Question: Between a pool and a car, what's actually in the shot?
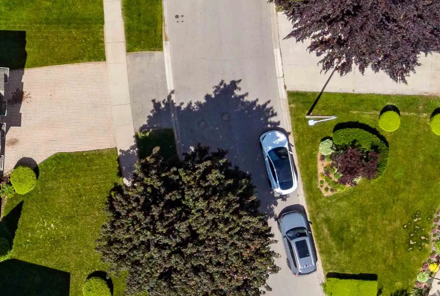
car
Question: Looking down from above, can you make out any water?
No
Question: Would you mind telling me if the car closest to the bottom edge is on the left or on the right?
right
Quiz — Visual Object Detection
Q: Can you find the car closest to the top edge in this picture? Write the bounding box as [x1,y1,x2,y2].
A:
[258,129,298,196]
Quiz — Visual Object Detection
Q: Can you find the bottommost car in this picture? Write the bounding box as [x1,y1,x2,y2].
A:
[277,209,315,275]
